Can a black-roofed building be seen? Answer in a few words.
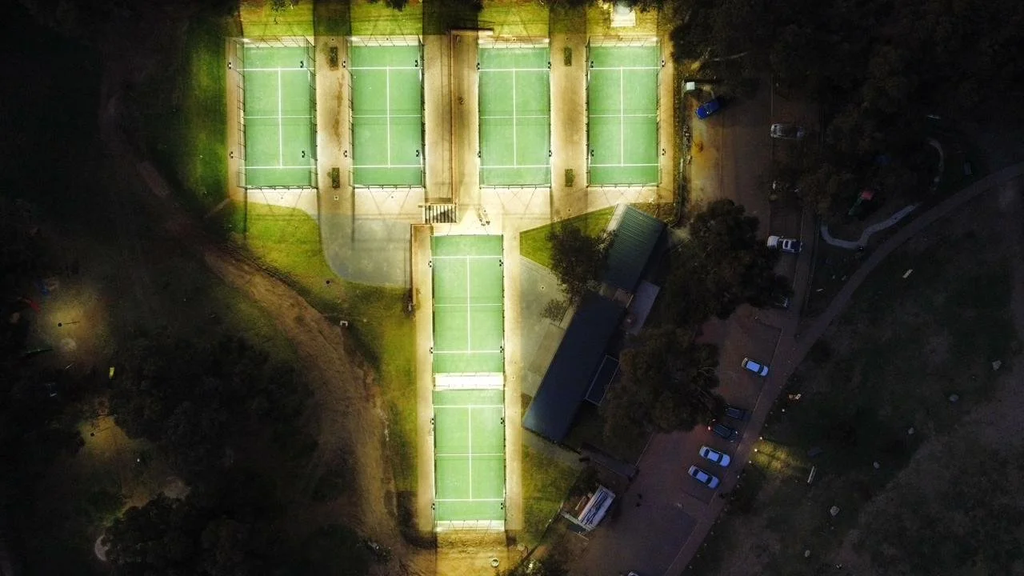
Yes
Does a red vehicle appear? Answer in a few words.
No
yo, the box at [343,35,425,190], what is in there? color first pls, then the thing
green sports court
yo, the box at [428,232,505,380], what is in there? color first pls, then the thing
green sports court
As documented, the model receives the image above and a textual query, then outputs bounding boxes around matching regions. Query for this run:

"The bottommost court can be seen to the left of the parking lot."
[430,384,507,533]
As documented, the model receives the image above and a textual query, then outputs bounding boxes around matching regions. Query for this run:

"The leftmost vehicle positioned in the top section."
[694,97,723,119]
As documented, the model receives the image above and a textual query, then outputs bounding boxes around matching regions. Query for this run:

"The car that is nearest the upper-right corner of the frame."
[769,122,806,140]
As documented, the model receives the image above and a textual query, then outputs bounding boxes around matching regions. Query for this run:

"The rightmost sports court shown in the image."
[585,35,665,189]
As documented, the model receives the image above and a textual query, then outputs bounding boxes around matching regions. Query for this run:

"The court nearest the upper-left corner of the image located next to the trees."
[231,35,318,190]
